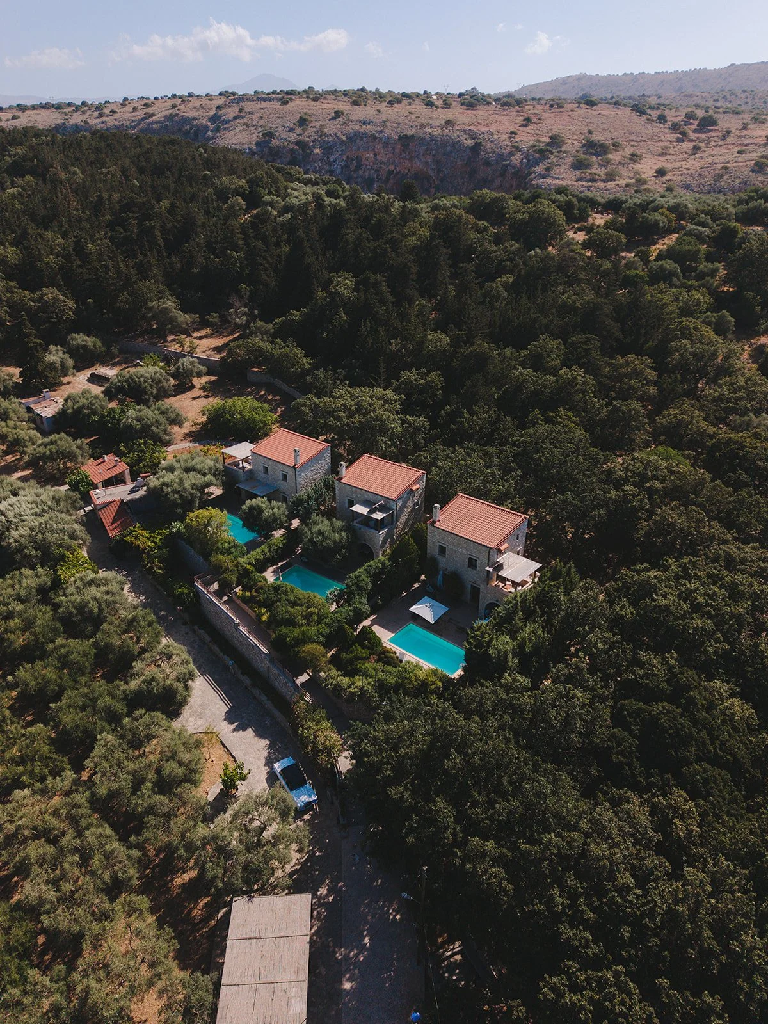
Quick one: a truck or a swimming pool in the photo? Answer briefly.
swimming pool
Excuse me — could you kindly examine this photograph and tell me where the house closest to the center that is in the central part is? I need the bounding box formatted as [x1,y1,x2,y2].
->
[332,452,430,558]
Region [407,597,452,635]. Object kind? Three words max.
umbrella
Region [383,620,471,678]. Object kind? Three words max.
swimming pool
